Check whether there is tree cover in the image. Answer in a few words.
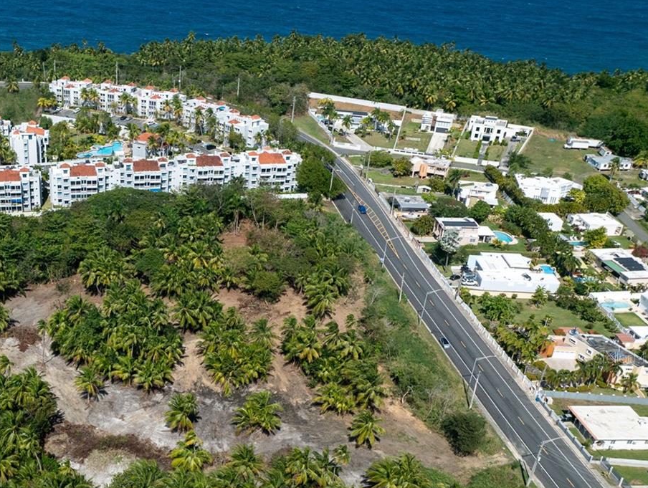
Yes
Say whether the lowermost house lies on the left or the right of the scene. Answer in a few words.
right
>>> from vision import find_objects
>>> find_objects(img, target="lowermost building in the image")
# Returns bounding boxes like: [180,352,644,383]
[565,404,648,453]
